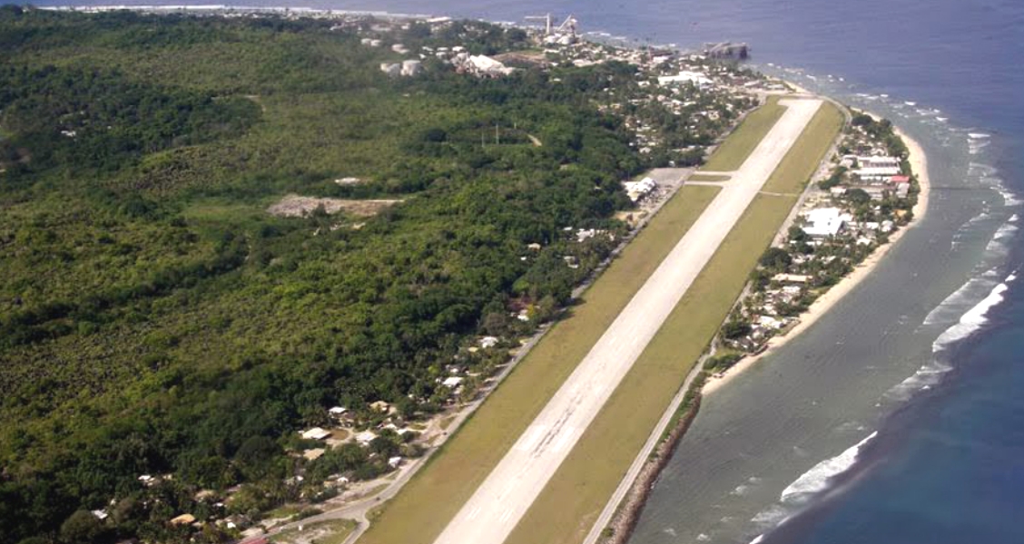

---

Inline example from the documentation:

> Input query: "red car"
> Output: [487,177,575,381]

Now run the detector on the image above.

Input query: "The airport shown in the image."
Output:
[356,96,842,544]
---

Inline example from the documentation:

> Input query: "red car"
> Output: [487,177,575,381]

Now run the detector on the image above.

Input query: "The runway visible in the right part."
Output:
[433,101,820,544]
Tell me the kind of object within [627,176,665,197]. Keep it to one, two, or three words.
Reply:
building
